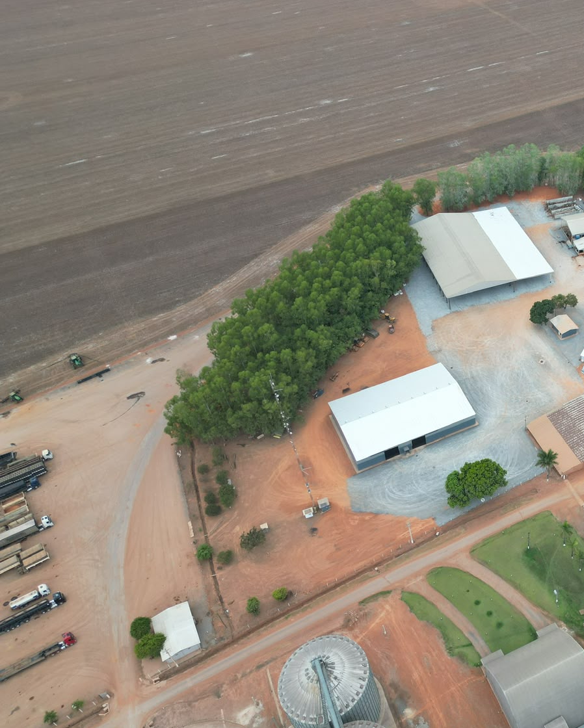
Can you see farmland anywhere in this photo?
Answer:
Yes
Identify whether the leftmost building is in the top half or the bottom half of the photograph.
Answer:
bottom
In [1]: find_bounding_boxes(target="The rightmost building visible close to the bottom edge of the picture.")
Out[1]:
[474,616,584,728]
